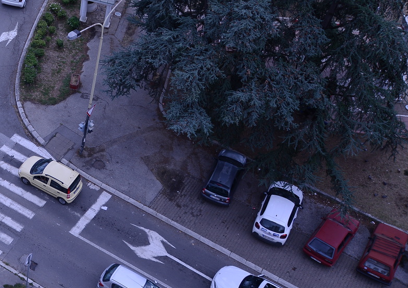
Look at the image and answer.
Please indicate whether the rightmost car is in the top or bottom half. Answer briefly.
bottom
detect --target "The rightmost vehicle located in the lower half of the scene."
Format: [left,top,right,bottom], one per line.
[361,220,408,286]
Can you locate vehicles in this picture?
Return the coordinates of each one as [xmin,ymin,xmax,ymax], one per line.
[2,0,27,8]
[210,267,281,288]
[202,146,252,207]
[305,207,362,267]
[254,180,306,249]
[17,157,84,205]
[361,220,408,286]
[94,259,160,288]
